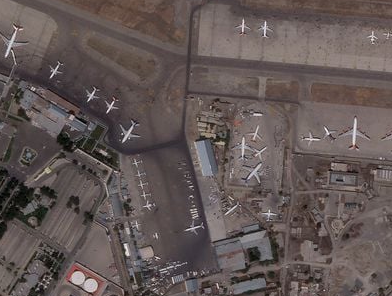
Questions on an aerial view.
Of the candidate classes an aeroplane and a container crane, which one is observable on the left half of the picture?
aeroplane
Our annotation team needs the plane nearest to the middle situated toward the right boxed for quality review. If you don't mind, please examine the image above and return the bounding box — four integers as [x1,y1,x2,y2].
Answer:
[231,137,255,161]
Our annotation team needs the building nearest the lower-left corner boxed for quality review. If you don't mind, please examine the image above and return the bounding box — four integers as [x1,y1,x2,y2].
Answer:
[13,259,46,296]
